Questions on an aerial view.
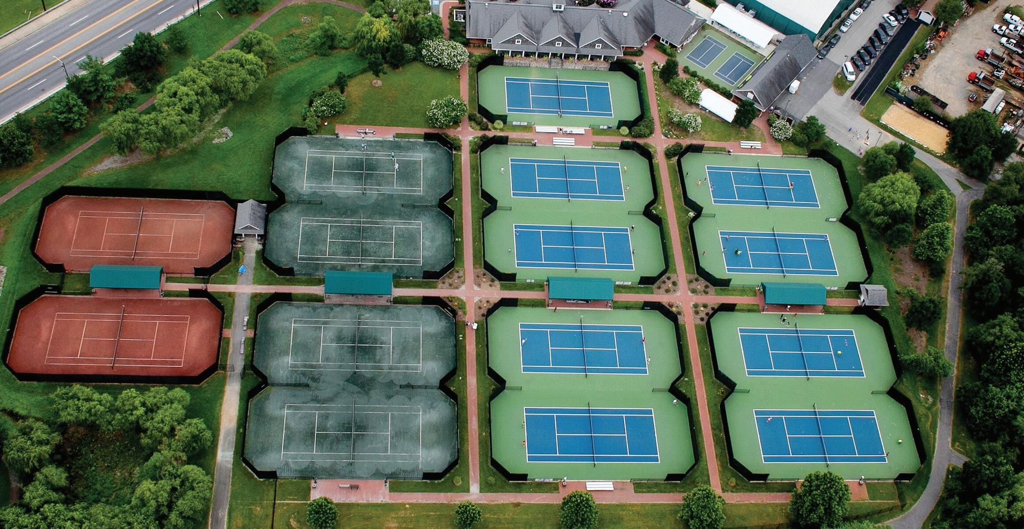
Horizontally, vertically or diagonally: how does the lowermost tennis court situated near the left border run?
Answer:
horizontally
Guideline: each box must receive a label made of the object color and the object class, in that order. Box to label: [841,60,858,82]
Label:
white vehicle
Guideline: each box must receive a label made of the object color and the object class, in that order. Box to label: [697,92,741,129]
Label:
white tent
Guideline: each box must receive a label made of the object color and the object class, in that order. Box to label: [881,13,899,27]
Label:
white car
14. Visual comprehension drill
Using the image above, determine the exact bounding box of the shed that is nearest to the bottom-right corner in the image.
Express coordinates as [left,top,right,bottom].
[856,284,889,312]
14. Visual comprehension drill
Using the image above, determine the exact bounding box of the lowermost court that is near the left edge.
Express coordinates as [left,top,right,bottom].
[6,297,224,376]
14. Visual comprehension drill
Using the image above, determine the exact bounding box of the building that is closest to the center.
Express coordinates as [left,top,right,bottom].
[547,276,613,308]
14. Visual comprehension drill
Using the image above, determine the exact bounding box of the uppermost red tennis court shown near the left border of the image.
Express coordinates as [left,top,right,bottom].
[35,196,237,274]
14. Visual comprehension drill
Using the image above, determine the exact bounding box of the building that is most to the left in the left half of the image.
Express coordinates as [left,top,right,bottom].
[90,264,164,296]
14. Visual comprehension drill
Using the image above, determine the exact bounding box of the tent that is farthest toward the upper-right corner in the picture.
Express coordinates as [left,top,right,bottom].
[709,5,778,55]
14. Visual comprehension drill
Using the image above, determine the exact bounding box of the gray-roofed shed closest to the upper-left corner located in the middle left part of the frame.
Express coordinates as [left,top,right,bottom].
[234,198,268,242]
